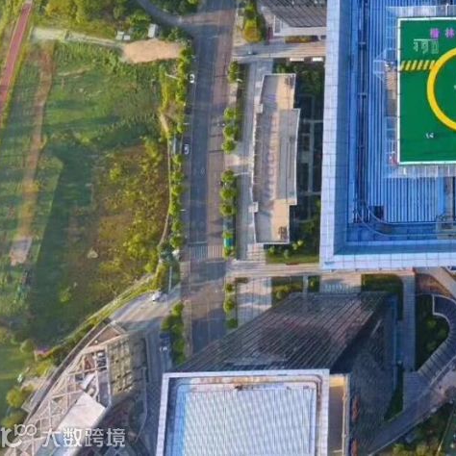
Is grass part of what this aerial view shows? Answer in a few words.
Yes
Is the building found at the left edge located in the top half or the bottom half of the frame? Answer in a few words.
bottom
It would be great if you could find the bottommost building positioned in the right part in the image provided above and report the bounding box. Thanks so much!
[156,297,406,456]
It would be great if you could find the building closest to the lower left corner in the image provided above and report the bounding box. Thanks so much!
[4,309,155,456]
